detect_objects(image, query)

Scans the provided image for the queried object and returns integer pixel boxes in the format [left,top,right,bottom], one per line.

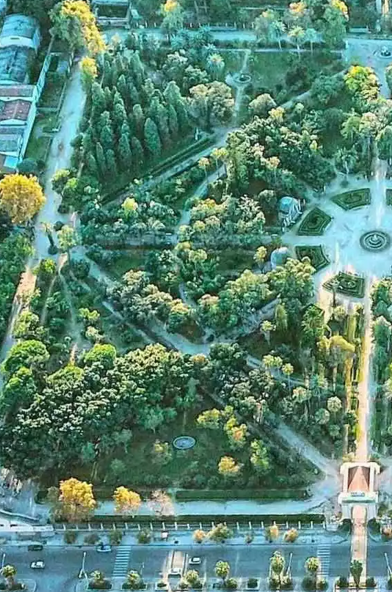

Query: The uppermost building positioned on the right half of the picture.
[282,200,307,228]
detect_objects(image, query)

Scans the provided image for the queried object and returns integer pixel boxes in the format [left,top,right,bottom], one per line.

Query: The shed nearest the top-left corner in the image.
[0,10,42,50]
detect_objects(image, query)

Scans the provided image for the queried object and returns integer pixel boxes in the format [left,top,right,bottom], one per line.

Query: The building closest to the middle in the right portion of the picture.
[271,246,296,271]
